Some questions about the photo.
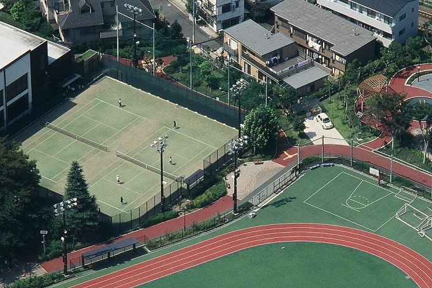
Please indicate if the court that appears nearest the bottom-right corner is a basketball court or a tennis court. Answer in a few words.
basketball court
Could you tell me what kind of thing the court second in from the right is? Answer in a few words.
tennis court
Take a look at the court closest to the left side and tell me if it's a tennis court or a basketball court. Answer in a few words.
tennis court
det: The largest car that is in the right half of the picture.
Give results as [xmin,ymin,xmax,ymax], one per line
[315,112,334,129]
